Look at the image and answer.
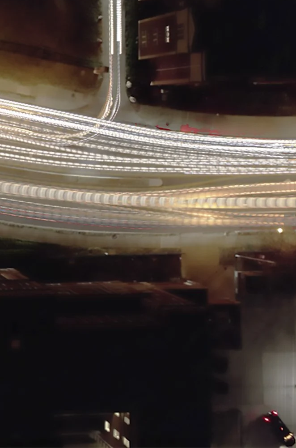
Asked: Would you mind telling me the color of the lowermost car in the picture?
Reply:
black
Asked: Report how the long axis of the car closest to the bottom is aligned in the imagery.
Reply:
at an angle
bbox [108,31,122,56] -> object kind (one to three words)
car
